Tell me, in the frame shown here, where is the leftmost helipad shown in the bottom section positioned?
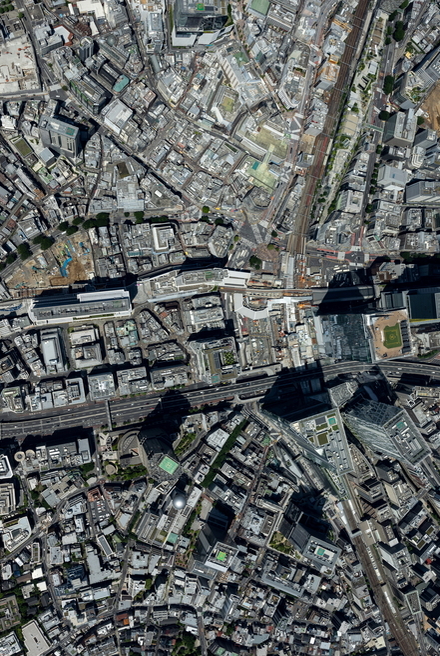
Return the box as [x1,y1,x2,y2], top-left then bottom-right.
[159,456,178,473]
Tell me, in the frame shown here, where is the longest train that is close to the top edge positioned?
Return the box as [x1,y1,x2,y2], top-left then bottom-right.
[334,19,357,99]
